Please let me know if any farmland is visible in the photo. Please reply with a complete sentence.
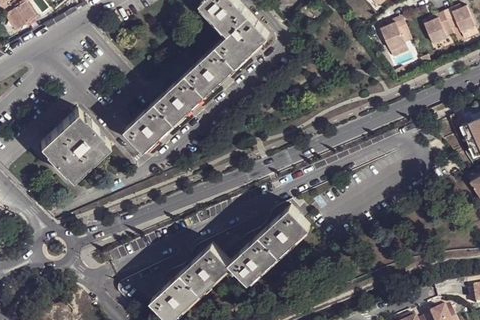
No, the scene doesn't show any farmland.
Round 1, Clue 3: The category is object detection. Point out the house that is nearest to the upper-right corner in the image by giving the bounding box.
[452,4,479,40]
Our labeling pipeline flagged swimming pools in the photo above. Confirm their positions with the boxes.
[394,52,414,64]
[32,0,49,12]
